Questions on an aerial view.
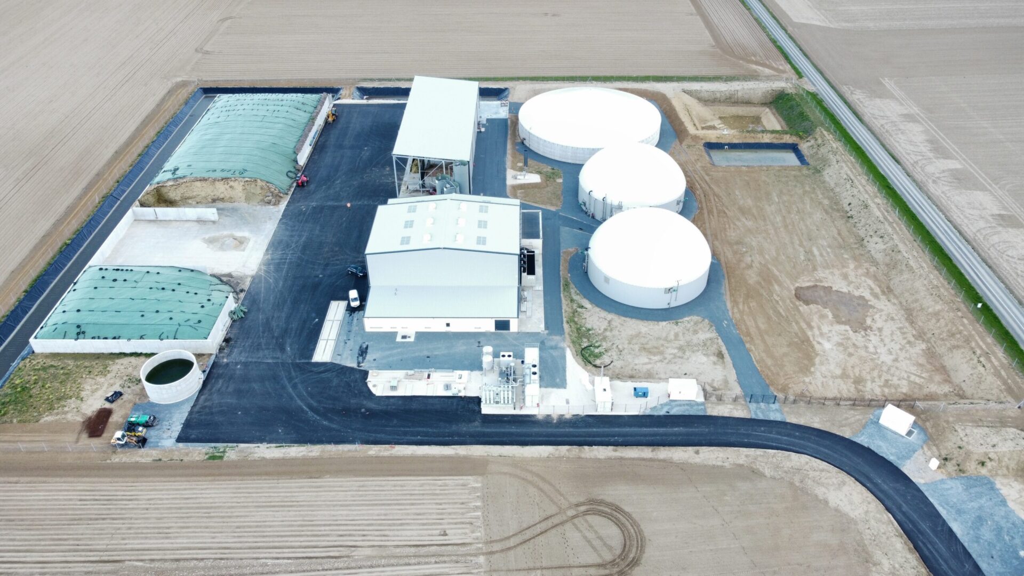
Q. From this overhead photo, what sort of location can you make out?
industrial area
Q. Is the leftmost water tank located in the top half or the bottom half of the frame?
bottom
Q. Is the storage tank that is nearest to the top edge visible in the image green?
No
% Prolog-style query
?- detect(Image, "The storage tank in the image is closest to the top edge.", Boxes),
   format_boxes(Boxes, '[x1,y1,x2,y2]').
[518,87,662,164]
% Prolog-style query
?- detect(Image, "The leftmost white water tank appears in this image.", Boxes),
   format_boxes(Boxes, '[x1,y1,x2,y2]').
[139,349,204,405]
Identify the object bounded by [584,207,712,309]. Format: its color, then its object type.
white storage tank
